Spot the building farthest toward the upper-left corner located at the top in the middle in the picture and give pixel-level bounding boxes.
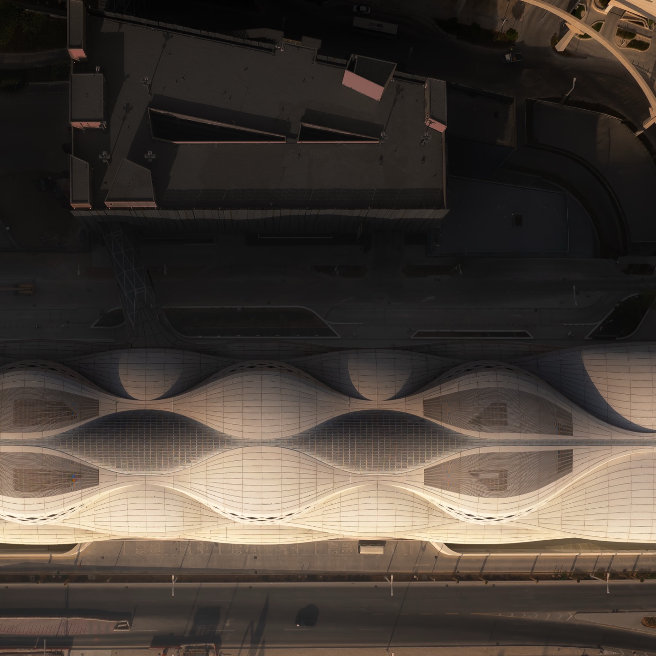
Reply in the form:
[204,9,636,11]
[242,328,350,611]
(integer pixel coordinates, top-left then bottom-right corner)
[67,0,449,234]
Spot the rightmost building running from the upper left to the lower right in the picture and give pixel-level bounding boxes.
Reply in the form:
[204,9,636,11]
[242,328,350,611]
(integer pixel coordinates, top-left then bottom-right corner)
[519,96,656,253]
